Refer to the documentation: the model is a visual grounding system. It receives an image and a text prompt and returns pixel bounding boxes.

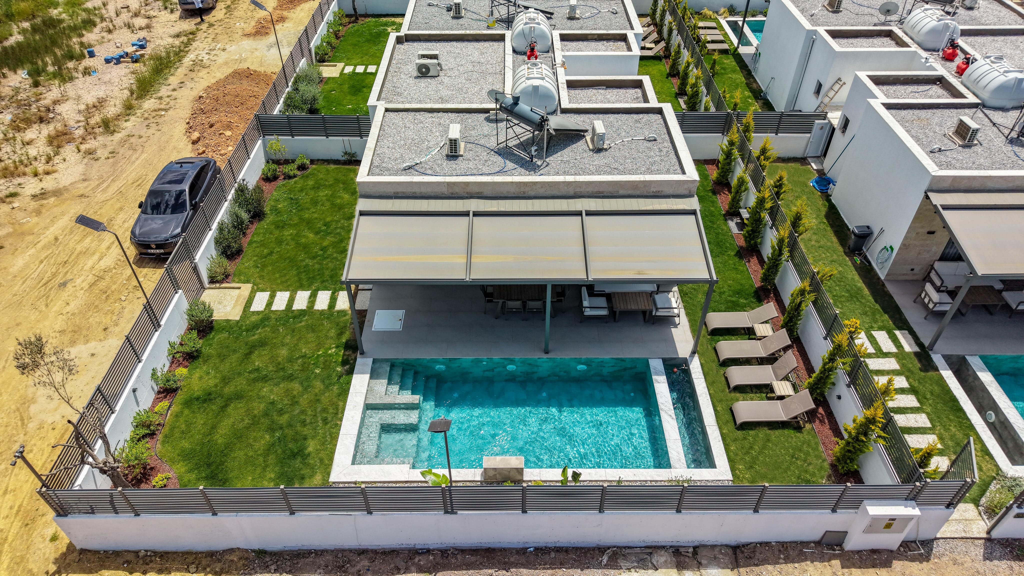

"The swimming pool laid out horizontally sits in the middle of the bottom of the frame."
[329,358,732,482]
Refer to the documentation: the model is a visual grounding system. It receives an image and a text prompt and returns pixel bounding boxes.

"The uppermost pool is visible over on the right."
[719,21,760,49]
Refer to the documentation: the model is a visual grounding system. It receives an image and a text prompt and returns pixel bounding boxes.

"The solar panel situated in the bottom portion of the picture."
[429,420,453,433]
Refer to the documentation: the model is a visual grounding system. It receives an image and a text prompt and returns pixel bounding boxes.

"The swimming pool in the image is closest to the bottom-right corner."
[932,355,1024,476]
